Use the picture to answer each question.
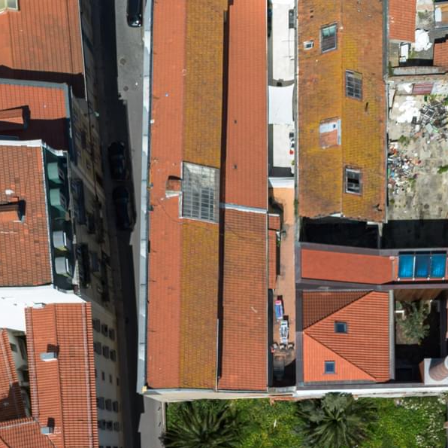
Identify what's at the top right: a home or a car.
home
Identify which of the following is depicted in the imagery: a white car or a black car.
black car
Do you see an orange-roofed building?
Yes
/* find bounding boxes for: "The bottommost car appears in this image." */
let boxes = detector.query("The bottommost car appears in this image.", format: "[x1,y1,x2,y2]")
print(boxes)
[109,185,134,233]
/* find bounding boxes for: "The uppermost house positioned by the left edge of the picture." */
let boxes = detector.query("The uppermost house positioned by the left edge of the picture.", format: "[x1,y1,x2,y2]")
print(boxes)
[0,0,112,139]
